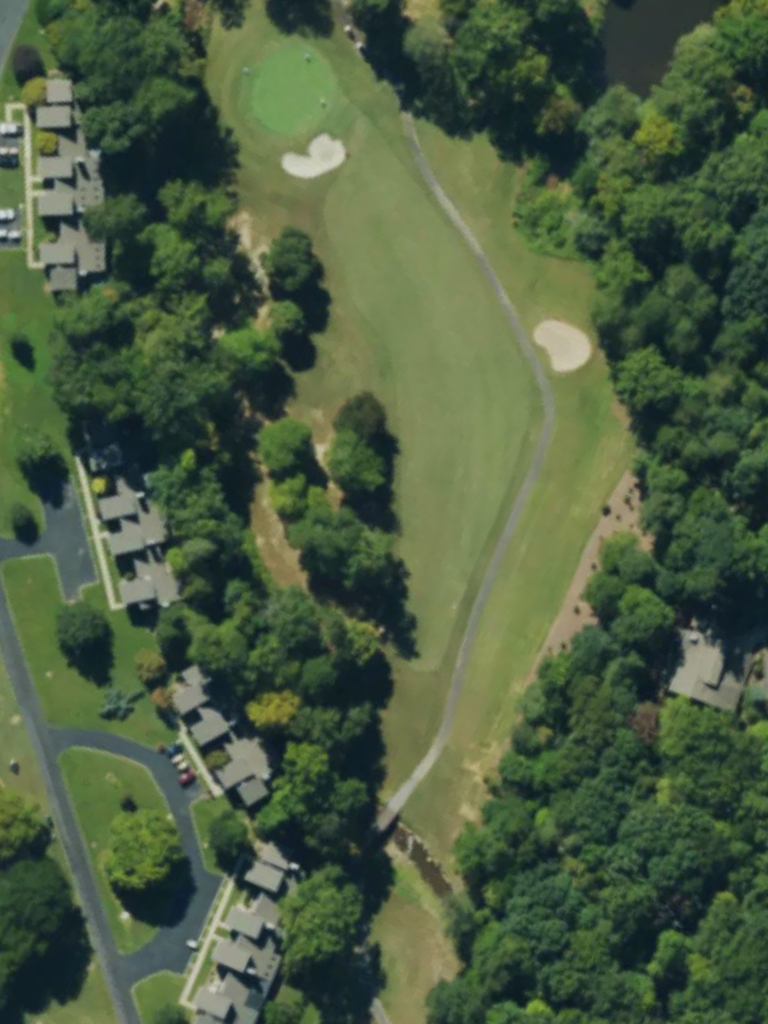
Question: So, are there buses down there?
No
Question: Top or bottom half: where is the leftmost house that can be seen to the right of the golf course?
bottom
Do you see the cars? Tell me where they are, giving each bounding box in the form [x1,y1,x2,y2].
[184,939,200,949]
[169,751,186,765]
[0,146,18,154]
[0,125,17,132]
[0,210,15,218]
[179,769,196,783]
[0,155,18,162]
[166,743,182,756]
[175,759,191,772]
[2,229,20,238]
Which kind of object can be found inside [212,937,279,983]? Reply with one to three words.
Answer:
house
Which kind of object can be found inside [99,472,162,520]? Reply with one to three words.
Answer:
house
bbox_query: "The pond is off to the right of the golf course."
[597,0,713,100]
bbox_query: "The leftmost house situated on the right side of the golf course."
[669,634,758,712]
